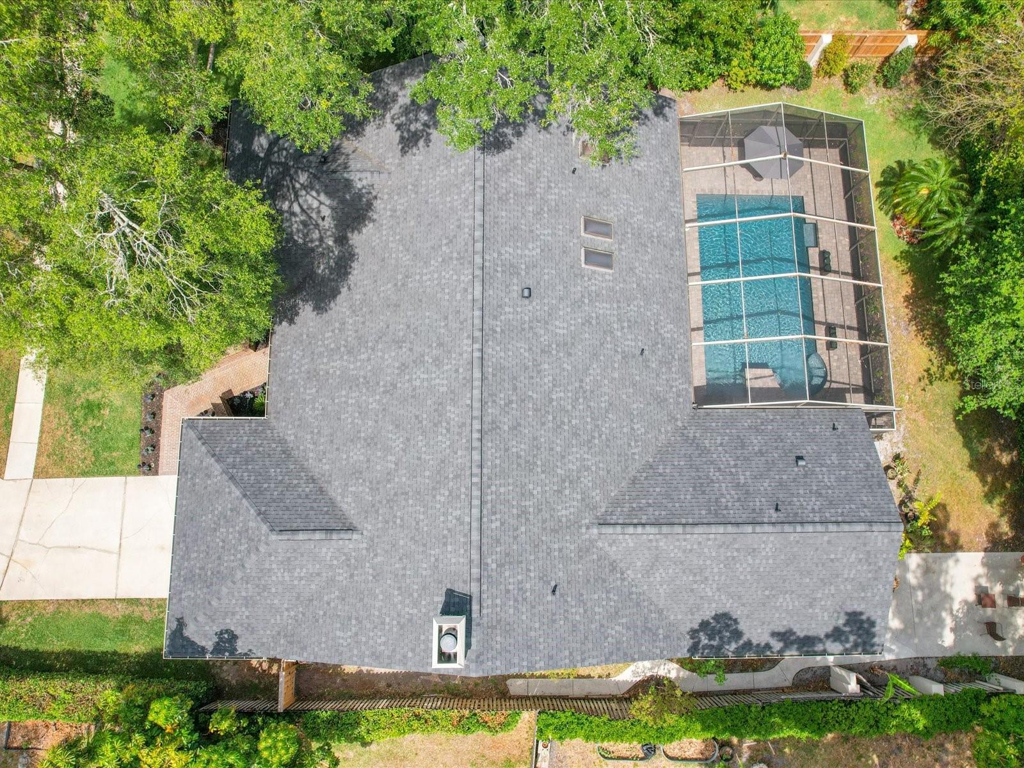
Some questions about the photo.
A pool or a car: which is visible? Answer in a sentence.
The one in the frame is a pool.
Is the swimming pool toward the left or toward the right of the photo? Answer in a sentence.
You can find the swimming pool on the right side of the picture.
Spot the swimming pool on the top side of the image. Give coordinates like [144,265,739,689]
[697,194,834,409]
